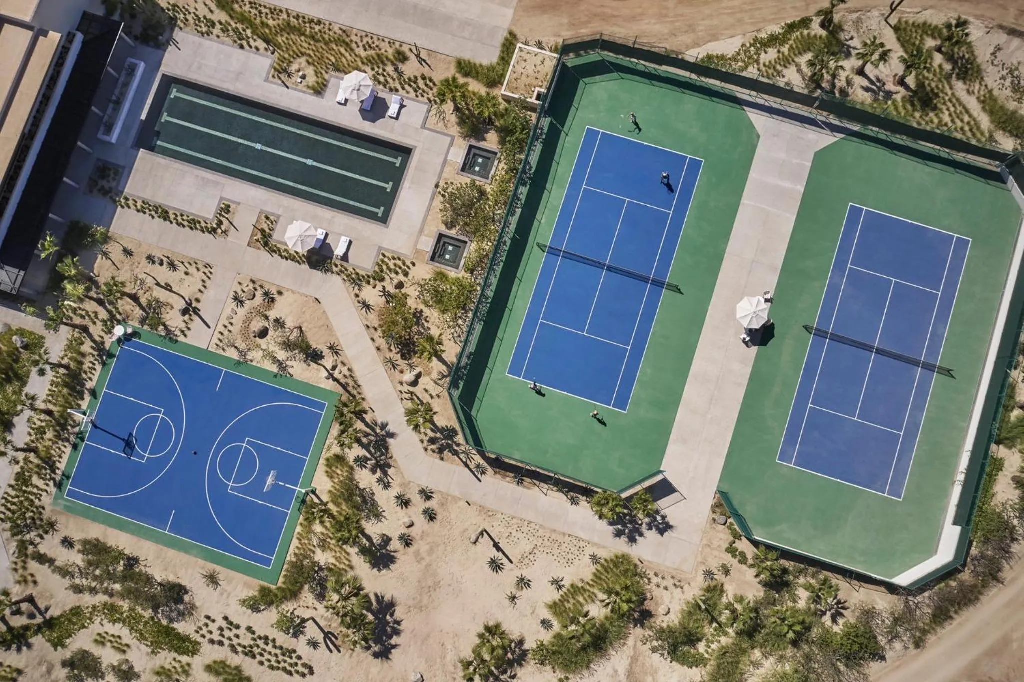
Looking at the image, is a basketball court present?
Yes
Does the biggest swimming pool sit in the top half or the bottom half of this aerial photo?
top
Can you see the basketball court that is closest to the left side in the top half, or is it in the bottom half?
bottom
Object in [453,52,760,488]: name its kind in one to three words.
tennis court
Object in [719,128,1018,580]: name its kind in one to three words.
tennis court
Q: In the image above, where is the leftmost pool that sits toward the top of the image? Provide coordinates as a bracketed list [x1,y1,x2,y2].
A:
[130,69,418,230]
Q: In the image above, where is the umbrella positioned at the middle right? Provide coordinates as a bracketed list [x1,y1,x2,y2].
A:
[736,298,766,329]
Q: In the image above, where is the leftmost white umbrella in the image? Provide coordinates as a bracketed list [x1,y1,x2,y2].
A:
[286,221,319,253]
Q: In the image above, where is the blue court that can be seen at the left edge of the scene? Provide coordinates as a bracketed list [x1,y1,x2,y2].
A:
[51,322,341,584]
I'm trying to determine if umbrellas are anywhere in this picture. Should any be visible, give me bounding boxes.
[342,74,373,102]
[736,298,766,329]
[286,221,319,253]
